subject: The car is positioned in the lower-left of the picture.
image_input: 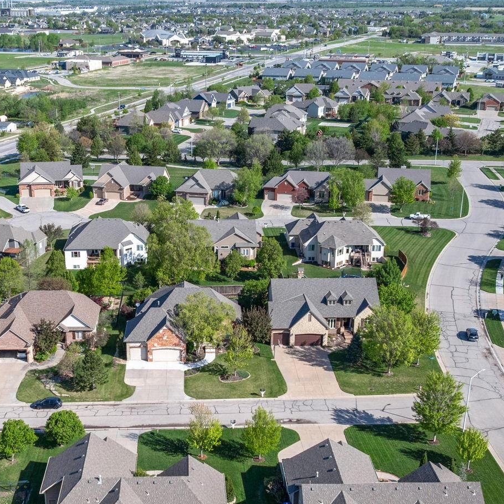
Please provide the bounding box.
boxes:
[30,393,62,408]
